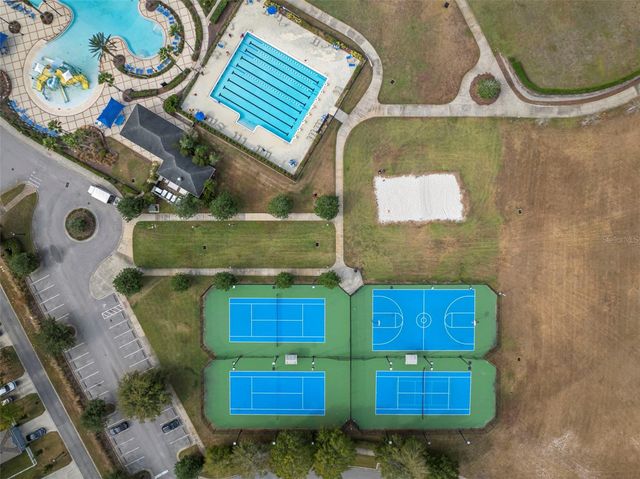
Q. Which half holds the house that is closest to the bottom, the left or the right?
left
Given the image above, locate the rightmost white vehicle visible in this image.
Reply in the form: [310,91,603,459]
[88,185,120,204]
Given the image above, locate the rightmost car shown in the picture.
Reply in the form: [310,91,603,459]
[161,418,182,432]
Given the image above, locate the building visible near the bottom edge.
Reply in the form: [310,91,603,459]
[0,422,35,465]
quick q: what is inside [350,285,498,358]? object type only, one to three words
basketball court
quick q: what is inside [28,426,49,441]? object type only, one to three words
car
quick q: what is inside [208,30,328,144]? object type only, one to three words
swimming pool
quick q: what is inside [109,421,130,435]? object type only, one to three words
car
